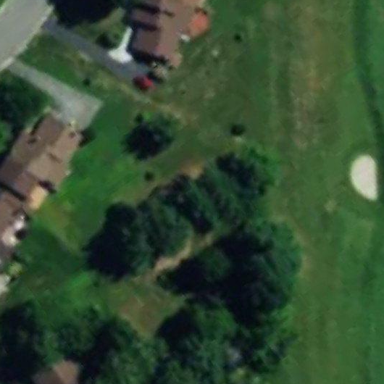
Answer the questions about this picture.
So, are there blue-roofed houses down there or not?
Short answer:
No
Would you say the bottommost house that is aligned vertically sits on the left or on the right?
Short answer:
left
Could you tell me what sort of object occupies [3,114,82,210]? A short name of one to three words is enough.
house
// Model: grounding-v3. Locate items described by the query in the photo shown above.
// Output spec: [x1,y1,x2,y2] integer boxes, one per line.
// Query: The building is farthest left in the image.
[0,189,32,263]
